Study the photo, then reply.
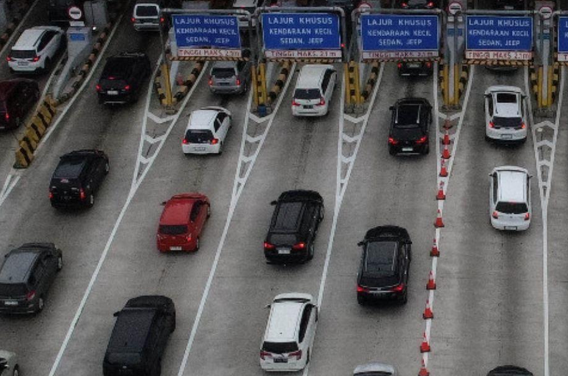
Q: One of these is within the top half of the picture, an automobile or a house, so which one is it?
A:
automobile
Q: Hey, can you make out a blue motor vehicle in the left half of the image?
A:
No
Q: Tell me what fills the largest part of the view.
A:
paved ground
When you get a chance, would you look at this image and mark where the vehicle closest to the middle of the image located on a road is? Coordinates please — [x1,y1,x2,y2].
[262,184,325,262]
